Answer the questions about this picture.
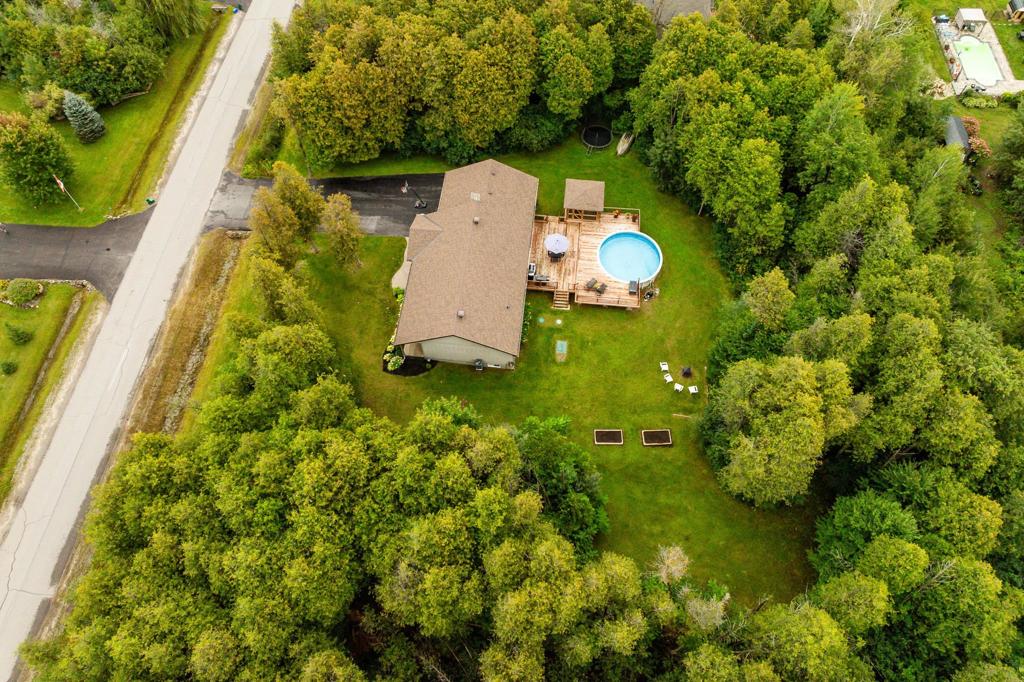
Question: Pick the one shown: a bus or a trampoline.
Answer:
trampoline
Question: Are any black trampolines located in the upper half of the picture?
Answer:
Yes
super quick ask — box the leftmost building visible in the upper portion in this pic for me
[392,160,540,368]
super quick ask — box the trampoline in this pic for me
[582,119,614,151]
